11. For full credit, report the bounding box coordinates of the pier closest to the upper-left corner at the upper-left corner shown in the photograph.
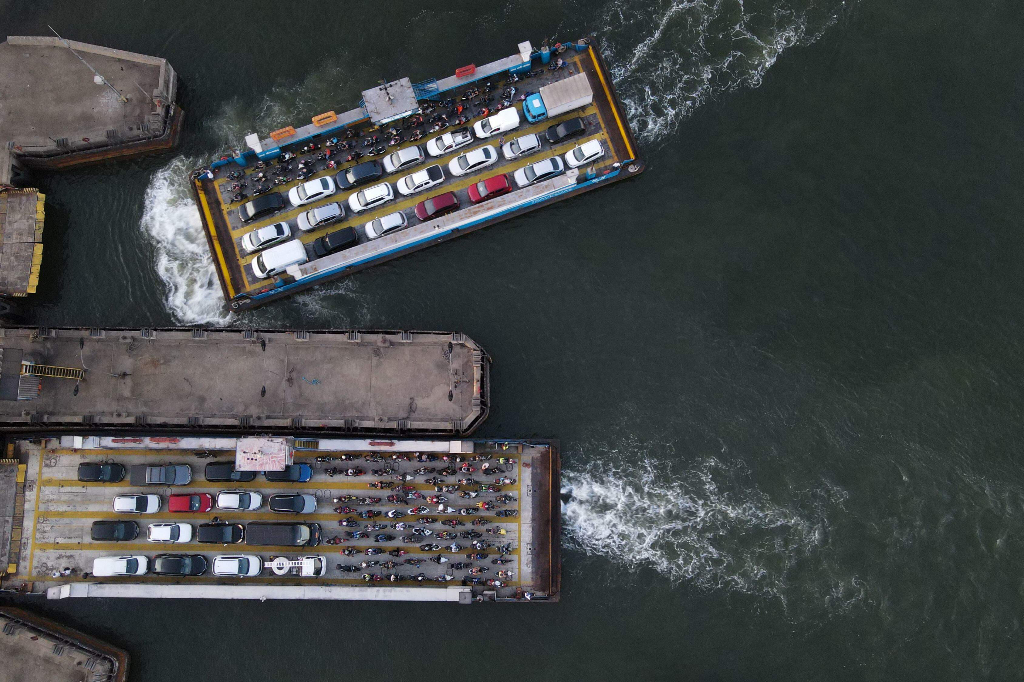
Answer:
[0,31,191,193]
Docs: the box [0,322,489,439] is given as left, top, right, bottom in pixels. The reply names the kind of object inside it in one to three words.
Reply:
pier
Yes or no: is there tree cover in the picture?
No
